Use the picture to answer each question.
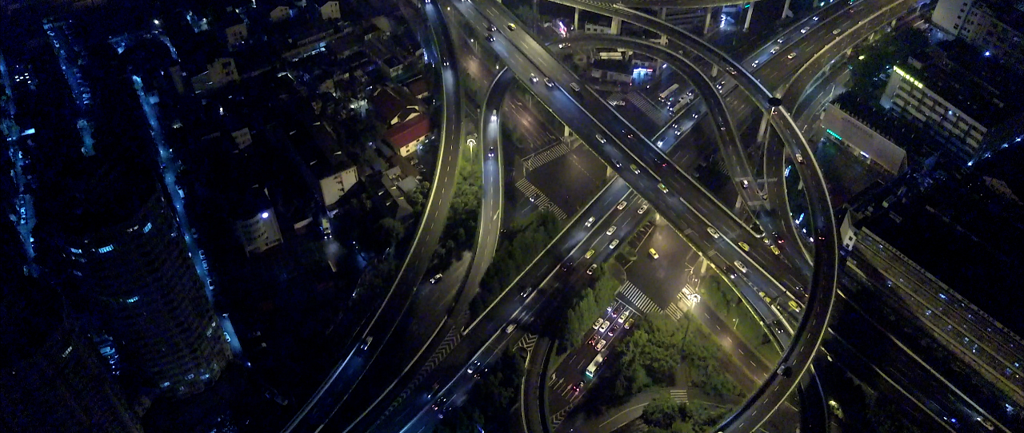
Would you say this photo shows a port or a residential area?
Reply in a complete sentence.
The picture captures a residential area.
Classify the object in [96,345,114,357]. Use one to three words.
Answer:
vehicle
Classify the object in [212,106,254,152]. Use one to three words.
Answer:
house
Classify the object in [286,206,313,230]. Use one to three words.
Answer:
shed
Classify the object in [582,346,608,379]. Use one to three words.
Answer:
bus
